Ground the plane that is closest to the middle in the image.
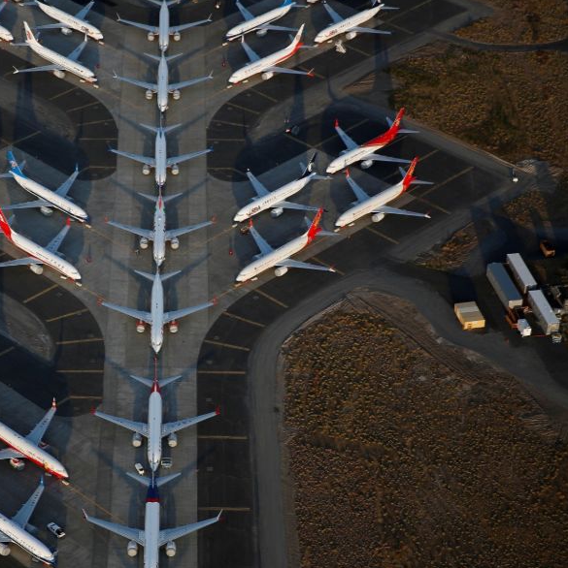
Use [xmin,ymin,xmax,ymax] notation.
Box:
[237,208,338,284]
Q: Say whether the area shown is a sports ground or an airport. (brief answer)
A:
airport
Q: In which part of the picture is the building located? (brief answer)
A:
right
